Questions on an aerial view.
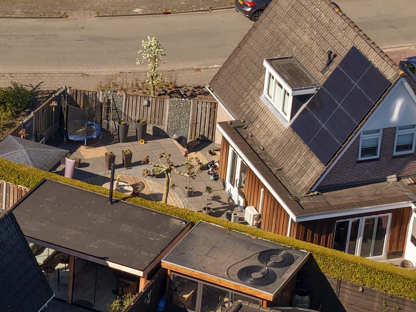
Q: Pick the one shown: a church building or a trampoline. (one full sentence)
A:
The image shows a trampoline.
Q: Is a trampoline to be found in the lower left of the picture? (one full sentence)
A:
No, in the lower left of the picture there is no trampoline.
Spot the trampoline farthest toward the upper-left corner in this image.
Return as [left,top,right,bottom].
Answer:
[68,92,108,148]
